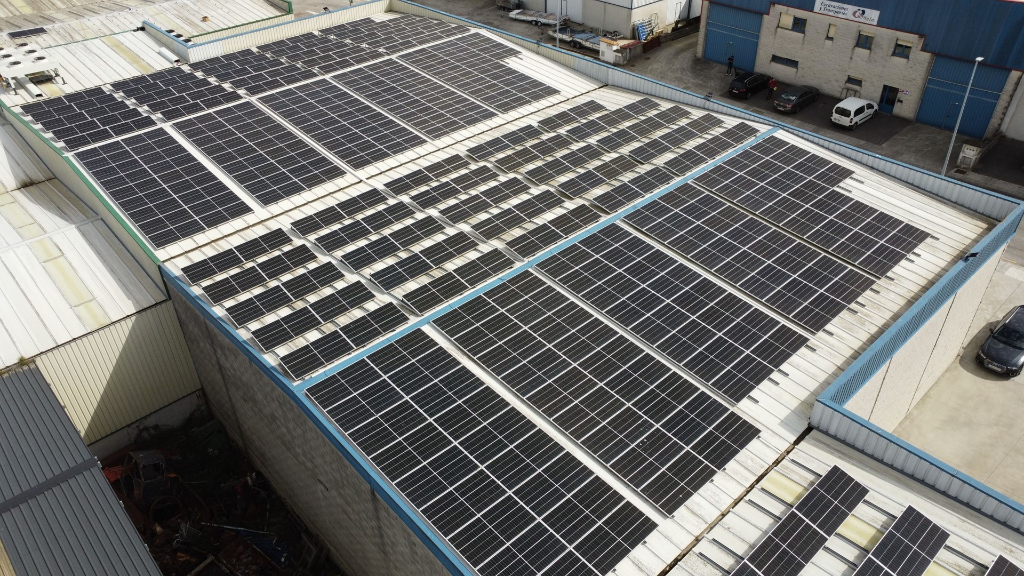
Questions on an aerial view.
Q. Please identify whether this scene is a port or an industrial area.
industrial area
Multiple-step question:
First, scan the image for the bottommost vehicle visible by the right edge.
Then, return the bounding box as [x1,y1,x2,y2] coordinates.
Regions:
[974,307,1024,382]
